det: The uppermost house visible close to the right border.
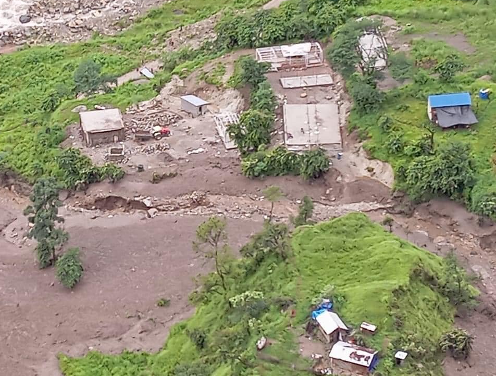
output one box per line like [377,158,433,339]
[424,85,482,127]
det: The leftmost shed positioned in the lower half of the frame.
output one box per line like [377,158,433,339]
[317,310,347,343]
